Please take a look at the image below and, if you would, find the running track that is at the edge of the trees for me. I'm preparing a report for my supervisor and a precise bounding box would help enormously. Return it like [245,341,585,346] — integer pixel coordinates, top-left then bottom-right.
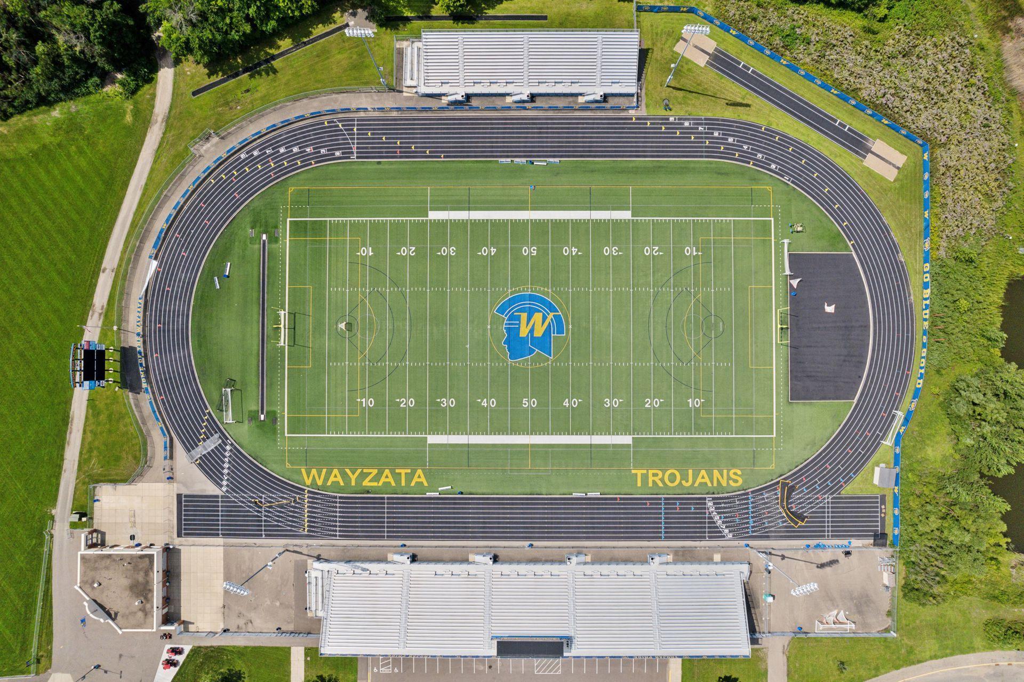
[145,116,917,542]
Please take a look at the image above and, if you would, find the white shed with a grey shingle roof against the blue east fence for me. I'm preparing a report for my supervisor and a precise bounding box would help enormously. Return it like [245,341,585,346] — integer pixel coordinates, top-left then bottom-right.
[872,467,896,488]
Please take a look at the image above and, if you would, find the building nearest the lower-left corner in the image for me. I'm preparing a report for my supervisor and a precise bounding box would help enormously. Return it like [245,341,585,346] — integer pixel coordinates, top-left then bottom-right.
[75,547,168,634]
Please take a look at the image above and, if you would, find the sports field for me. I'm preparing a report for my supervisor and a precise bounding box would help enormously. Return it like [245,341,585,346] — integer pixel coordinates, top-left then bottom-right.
[192,162,869,494]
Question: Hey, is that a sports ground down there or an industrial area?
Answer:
sports ground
